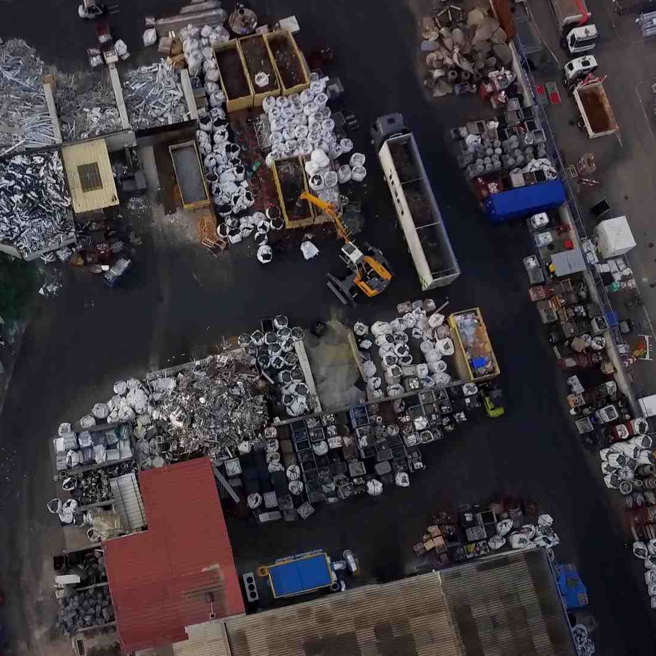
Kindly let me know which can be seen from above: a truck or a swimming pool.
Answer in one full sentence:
Looking from above, you can make out a truck.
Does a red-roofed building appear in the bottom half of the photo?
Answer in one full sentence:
Yes, in the bottom half of the photo there is a red-roofed building.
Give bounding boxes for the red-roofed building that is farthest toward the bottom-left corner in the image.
[102,457,246,654]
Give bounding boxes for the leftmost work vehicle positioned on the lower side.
[472,382,503,419]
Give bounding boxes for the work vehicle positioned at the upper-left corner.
[77,0,114,21]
